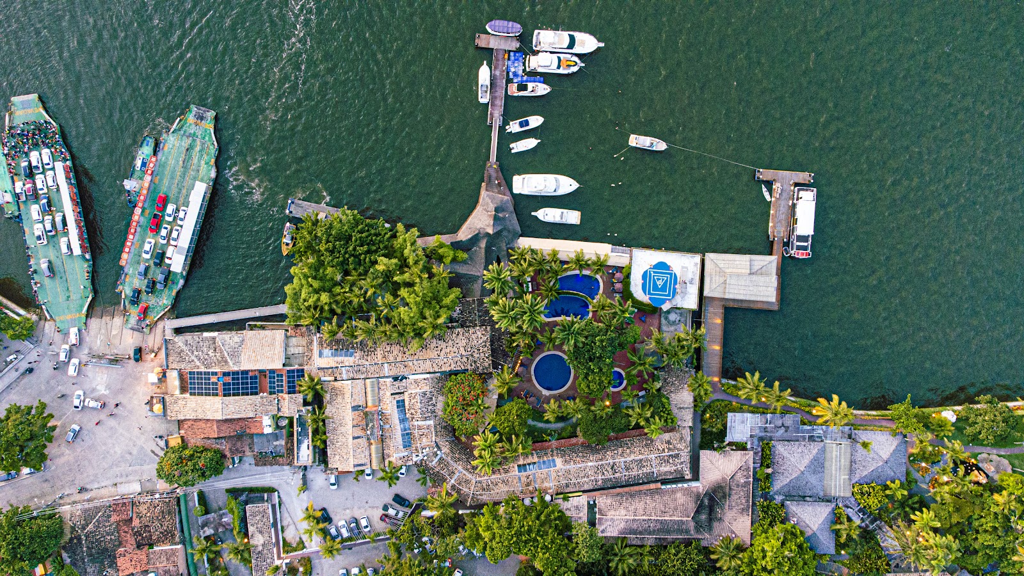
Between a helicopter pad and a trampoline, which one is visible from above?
helicopter pad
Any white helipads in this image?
Yes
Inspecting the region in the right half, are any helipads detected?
Yes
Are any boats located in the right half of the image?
Yes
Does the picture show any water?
Yes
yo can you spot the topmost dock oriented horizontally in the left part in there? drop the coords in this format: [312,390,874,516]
[286,199,342,220]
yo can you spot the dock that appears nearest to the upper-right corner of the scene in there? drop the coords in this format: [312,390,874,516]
[753,169,814,241]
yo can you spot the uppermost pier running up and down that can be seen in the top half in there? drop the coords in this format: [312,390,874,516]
[476,34,520,128]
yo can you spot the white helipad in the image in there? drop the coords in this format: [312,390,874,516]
[630,248,702,311]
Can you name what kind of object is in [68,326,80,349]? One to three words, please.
vehicle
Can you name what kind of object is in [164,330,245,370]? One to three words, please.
house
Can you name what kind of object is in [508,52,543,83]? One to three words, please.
pier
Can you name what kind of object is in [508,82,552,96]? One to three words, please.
boat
